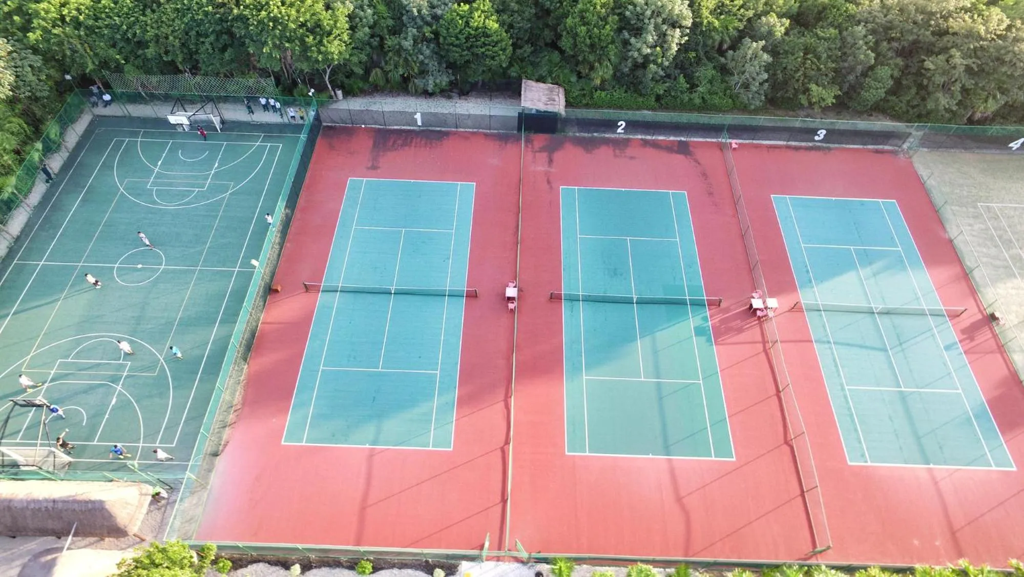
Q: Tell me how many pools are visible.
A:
zero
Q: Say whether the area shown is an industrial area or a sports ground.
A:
sports ground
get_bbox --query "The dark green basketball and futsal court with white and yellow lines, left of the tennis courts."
[0,114,310,488]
